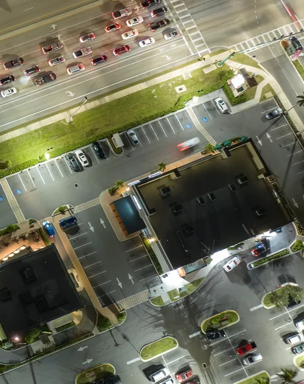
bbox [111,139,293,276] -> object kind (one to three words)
building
